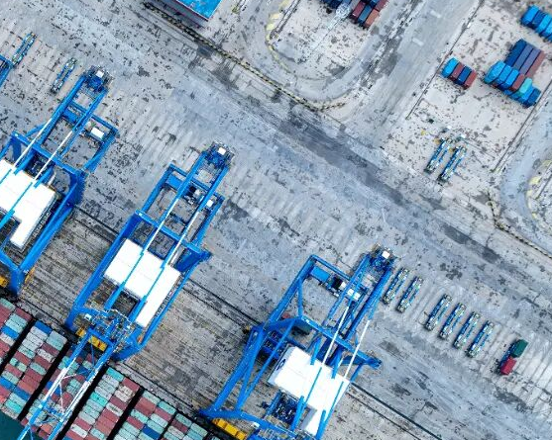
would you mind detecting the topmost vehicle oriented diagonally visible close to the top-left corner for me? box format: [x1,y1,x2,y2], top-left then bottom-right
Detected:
[10,29,37,66]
